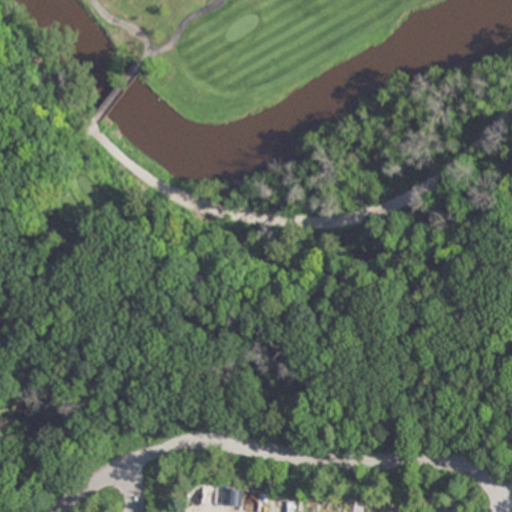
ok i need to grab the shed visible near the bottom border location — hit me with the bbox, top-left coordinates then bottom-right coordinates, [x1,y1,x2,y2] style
[216,486,242,508]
